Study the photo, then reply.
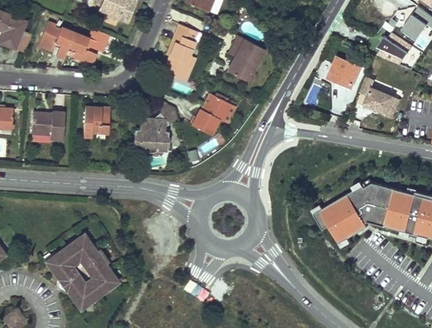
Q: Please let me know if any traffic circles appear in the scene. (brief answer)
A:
Yes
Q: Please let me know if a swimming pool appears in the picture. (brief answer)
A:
Yes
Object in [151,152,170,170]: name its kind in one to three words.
swimming pool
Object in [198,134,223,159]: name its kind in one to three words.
swimming pool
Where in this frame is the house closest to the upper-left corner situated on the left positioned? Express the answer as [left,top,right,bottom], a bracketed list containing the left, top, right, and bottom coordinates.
[0,10,32,52]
